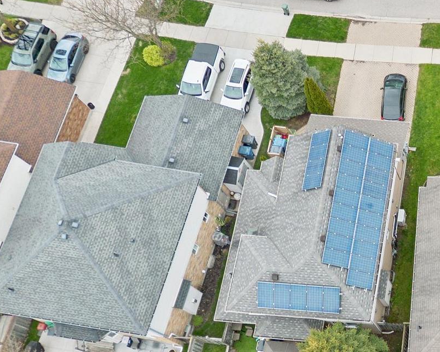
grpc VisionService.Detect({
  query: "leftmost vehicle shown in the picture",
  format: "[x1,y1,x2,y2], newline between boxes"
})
[9,22,59,75]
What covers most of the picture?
buildings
